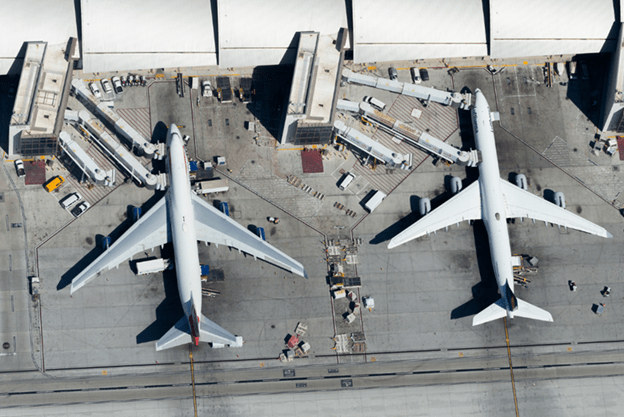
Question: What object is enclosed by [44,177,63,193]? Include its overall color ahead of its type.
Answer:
orange vehicle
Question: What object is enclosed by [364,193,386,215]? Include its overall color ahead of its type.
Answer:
white vehicle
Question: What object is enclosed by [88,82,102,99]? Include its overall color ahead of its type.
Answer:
white car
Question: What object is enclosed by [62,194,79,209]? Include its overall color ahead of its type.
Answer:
white vehicle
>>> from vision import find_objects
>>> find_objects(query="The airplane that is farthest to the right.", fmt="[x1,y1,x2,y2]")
[392,90,614,325]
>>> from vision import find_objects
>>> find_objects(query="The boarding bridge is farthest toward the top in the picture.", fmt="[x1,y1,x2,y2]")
[340,68,471,121]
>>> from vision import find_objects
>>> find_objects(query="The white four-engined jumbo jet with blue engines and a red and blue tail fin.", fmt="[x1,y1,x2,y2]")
[69,124,308,351]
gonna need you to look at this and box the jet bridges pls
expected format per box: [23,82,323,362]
[62,133,121,207]
[63,110,162,203]
[337,99,476,180]
[72,82,160,169]
[340,68,471,121]
[332,119,411,182]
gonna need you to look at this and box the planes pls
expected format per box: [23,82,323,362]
[392,90,614,325]
[69,124,308,351]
